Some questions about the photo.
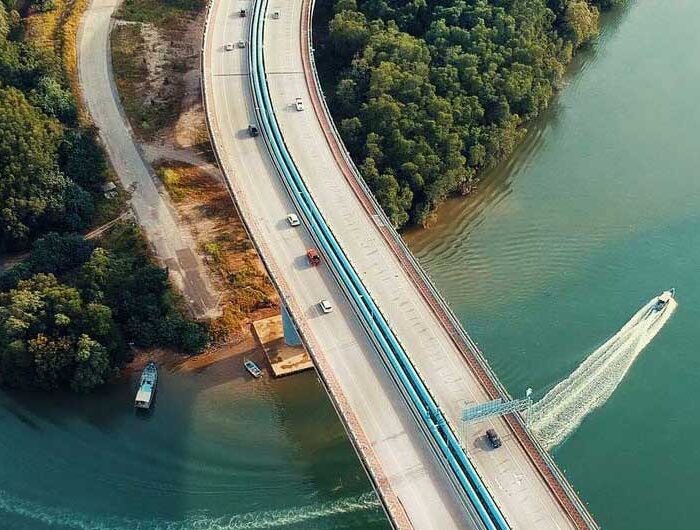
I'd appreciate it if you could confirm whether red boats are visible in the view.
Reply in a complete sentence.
No, there is no red boat in the image.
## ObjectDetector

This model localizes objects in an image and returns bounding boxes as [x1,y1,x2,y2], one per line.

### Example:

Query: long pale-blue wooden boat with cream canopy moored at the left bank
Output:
[137,359,155,409]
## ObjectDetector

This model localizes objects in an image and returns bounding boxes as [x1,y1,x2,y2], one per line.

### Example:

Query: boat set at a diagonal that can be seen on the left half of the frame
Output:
[246,354,262,377]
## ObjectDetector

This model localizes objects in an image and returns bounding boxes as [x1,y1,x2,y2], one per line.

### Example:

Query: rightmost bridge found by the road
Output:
[200,0,606,530]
